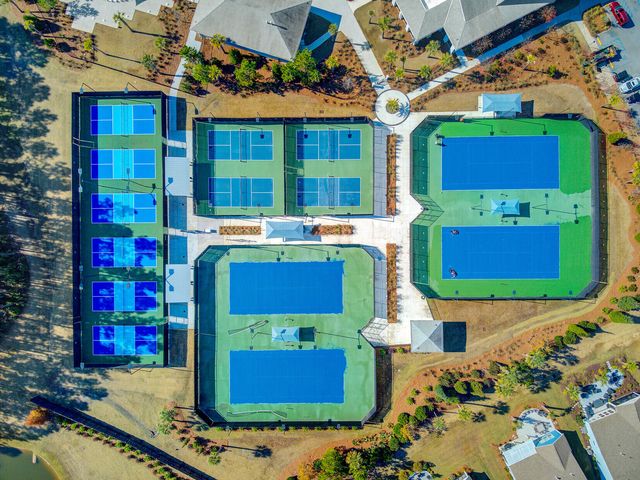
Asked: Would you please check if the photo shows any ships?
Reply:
No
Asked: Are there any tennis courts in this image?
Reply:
Yes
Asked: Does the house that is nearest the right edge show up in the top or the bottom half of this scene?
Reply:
bottom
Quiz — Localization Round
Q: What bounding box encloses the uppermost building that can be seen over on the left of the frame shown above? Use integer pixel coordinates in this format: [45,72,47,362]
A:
[192,0,313,62]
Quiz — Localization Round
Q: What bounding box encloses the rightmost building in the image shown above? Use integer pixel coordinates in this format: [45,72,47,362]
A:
[581,386,640,480]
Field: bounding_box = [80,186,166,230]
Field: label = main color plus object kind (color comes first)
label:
blue sports court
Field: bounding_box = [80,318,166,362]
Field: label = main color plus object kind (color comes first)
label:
blue sports court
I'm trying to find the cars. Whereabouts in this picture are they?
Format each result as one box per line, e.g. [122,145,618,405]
[620,75,640,92]
[617,63,640,82]
[612,0,631,24]
[629,89,640,102]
